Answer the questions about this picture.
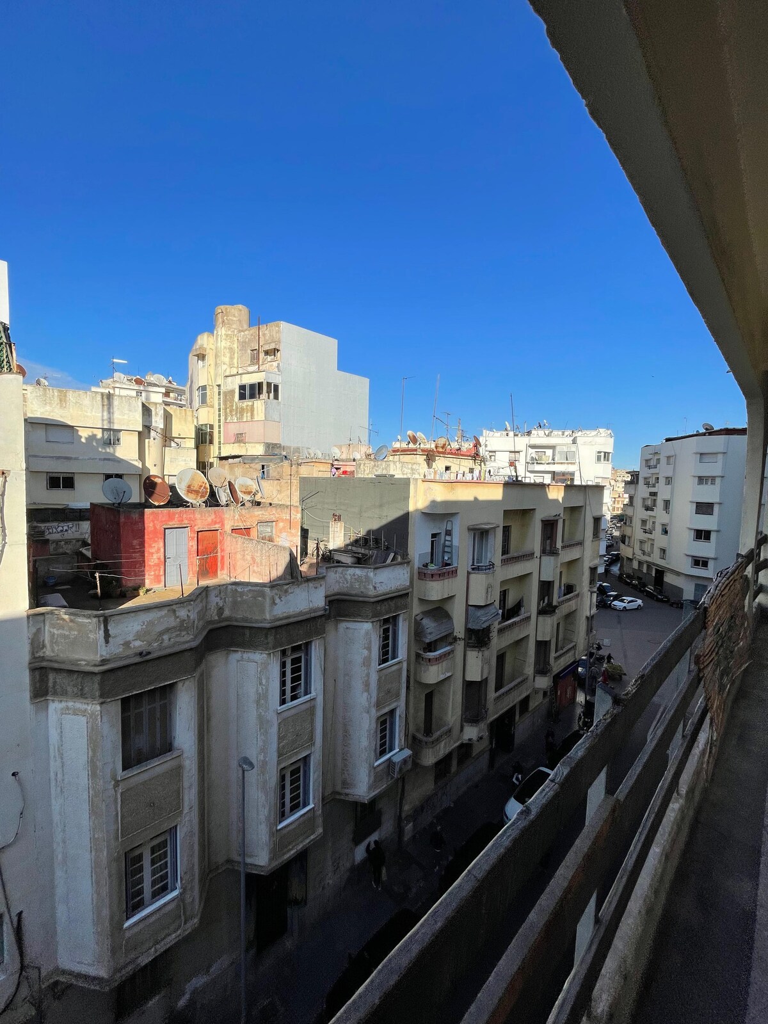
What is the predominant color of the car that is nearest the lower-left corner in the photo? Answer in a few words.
black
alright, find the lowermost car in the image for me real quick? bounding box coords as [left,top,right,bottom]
[274,958,375,1024]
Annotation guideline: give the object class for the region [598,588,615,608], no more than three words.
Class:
car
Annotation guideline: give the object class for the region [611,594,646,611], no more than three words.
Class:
car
